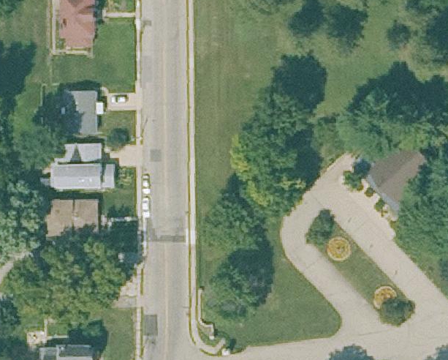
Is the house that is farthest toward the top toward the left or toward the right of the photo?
left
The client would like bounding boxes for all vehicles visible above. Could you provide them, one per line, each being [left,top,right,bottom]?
[142,198,150,217]
[109,94,128,104]
[142,176,151,195]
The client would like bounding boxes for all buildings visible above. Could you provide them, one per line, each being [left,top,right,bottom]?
[39,345,93,360]
[366,152,430,215]
[50,143,115,190]
[62,90,104,135]
[46,199,98,237]
[51,0,96,51]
